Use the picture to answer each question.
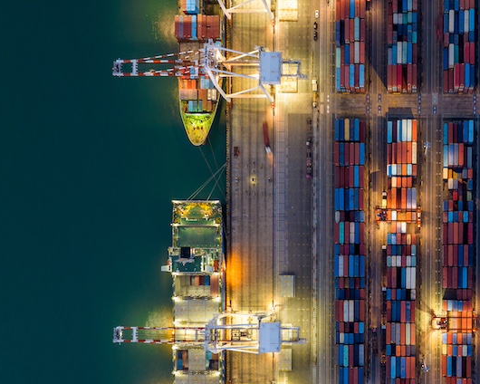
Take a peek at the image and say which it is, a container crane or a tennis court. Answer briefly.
container crane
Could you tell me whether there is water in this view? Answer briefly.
Yes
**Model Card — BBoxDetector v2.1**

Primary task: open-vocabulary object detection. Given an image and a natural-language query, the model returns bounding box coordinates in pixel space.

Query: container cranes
[216,0,274,27]
[113,44,307,108]
[113,310,307,355]
[375,206,424,229]
[432,312,480,333]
